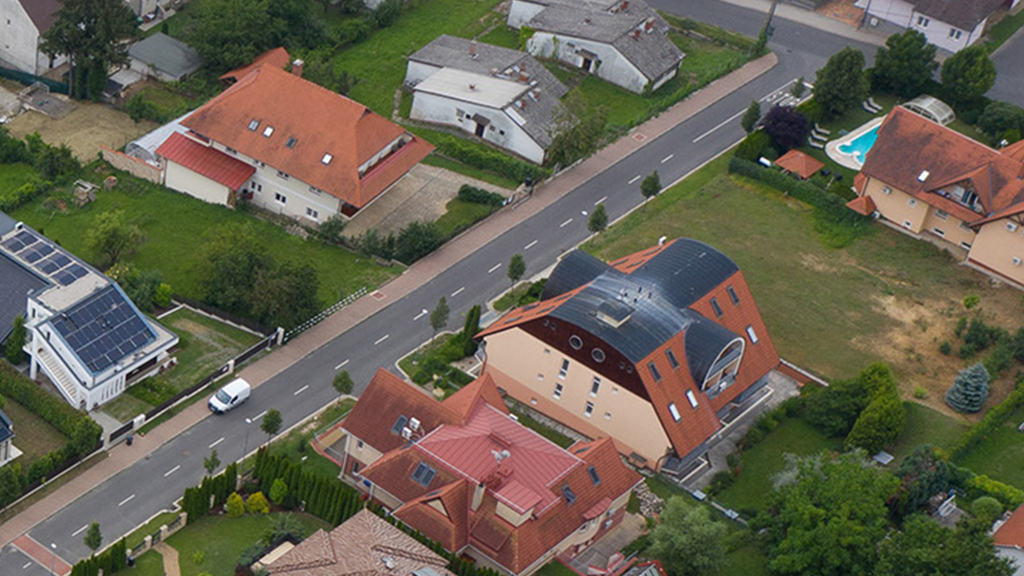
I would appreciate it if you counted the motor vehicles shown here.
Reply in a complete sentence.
The count comes to 1 motor vehicle.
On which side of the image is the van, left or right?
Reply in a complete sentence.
The van appears in the left half of the scene.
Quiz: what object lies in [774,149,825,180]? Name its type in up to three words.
gazebo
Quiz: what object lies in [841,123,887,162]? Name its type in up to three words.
swimming pool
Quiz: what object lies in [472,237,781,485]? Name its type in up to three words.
house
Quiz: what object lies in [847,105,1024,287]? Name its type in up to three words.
house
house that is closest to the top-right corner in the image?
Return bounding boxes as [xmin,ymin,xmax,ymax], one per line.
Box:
[908,0,1005,55]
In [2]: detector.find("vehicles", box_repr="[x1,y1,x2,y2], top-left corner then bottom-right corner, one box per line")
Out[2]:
[211,375,254,412]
